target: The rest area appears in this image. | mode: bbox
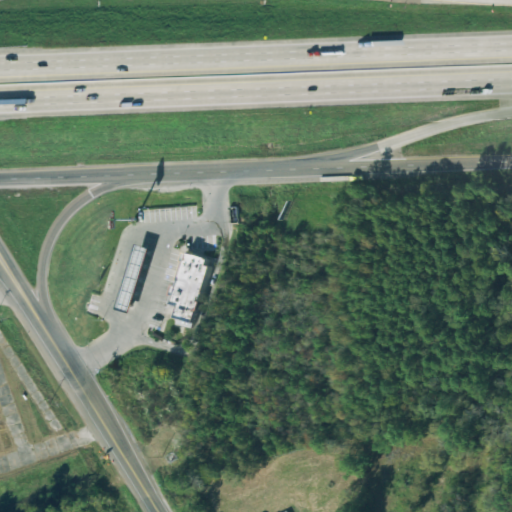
[72,186,234,372]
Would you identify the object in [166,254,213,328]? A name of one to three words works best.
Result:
building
